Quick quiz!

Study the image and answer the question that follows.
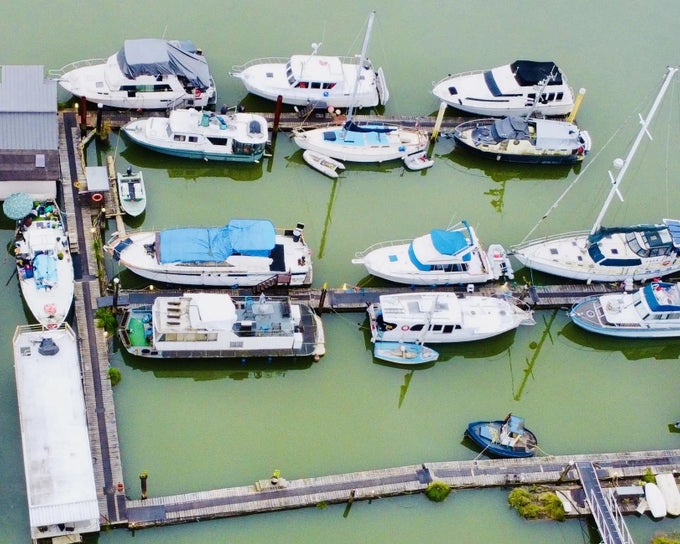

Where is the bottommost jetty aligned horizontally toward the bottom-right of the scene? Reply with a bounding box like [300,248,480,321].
[426,453,680,489]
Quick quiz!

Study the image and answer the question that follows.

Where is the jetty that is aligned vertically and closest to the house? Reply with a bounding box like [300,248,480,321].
[60,102,130,532]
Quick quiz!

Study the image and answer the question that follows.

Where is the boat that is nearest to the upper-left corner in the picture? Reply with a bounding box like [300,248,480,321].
[52,21,219,110]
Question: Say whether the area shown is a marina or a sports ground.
marina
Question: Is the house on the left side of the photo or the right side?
left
